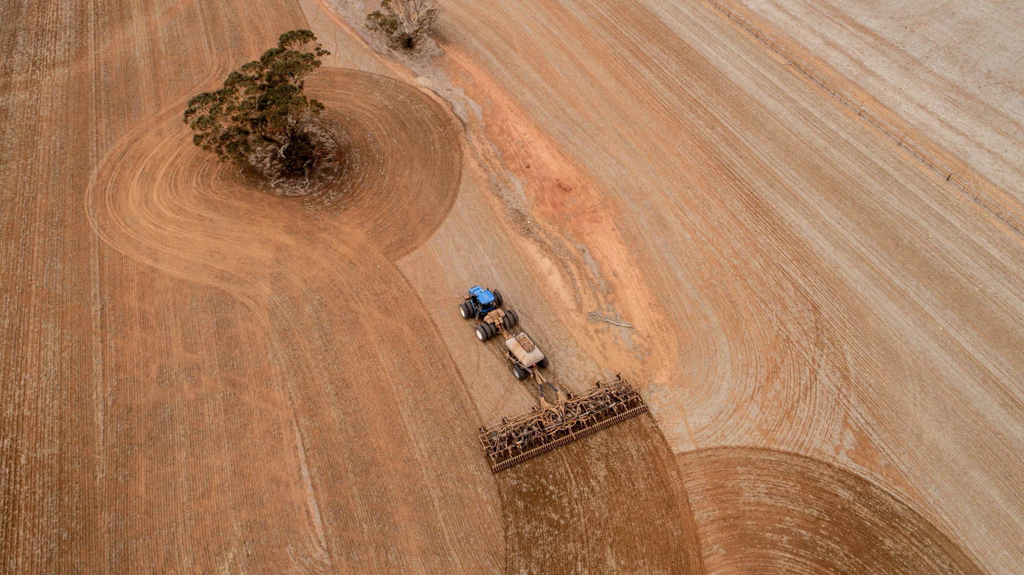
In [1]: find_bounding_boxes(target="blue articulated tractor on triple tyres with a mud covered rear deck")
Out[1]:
[458,286,522,343]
